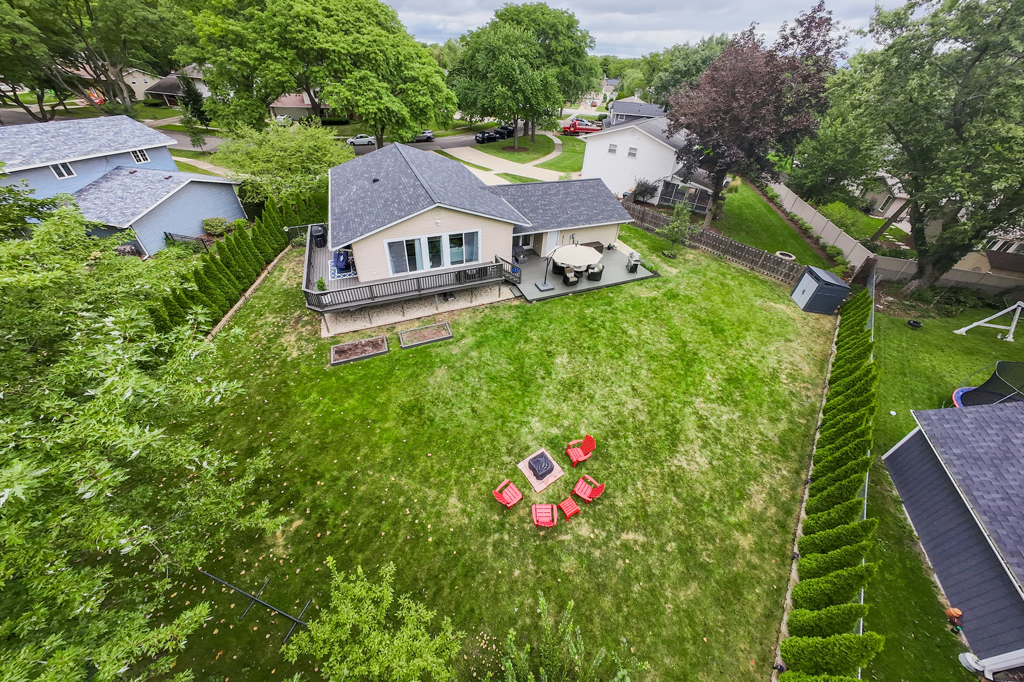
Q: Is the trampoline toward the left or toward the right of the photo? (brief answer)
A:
right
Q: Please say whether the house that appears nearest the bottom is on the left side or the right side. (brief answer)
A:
right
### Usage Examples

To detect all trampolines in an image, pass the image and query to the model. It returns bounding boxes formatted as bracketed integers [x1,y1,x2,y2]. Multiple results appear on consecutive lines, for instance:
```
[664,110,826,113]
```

[945,360,1024,406]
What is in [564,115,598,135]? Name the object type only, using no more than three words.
vehicle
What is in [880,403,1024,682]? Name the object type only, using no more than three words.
house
